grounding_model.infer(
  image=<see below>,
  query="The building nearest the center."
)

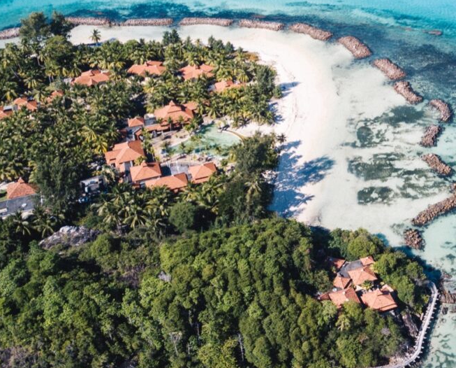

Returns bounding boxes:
[188,159,217,187]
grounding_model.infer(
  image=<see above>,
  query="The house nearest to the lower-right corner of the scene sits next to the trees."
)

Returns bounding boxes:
[364,288,397,319]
